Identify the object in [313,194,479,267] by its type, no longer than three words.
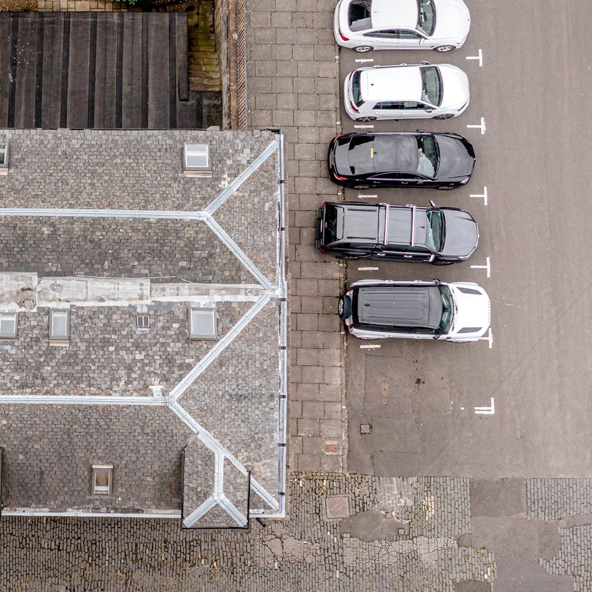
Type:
vehicle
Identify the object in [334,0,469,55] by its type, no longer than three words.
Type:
car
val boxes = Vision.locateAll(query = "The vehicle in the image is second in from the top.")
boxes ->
[343,56,468,122]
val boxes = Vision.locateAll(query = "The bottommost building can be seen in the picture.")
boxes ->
[0,127,289,529]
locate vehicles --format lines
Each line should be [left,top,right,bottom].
[313,194,479,267]
[343,56,468,122]
[334,0,469,55]
[329,125,472,192]
[339,273,493,346]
